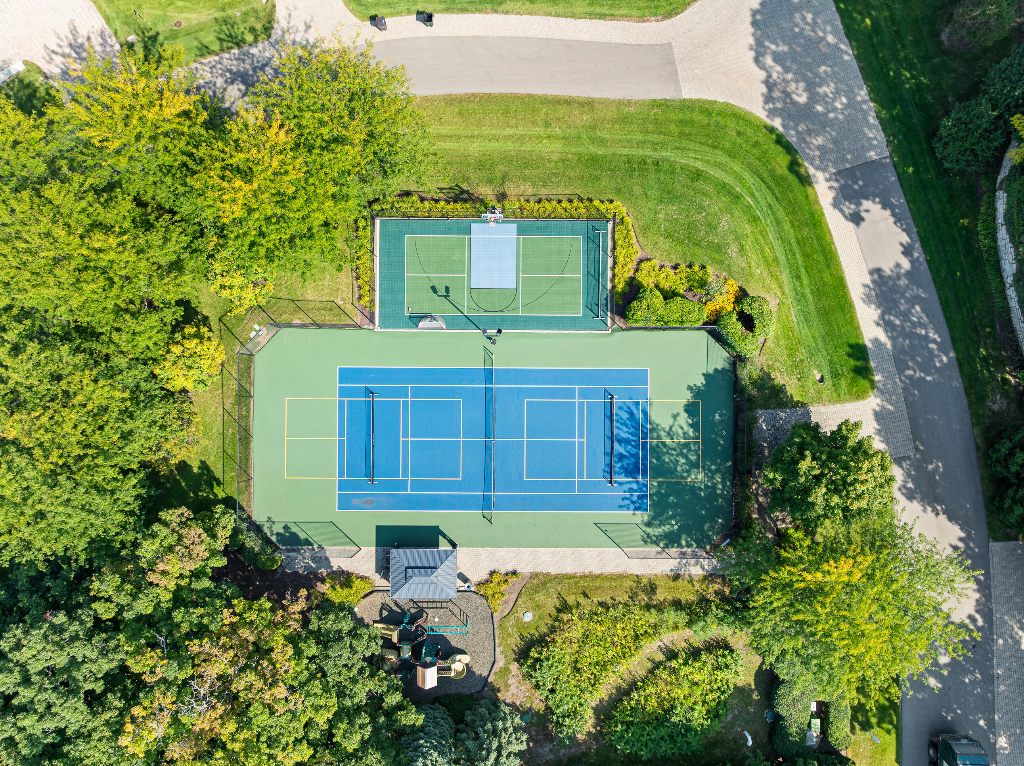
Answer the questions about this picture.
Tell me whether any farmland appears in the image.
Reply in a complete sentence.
No, there is no farmland in the image.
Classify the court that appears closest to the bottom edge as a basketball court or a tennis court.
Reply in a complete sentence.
From above, the court that appears closest to the bottom edge can be identified as a tennis court.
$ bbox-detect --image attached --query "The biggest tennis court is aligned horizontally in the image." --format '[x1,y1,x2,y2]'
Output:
[253,330,734,549]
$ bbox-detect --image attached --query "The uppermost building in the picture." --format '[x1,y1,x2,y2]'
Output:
[390,542,459,599]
